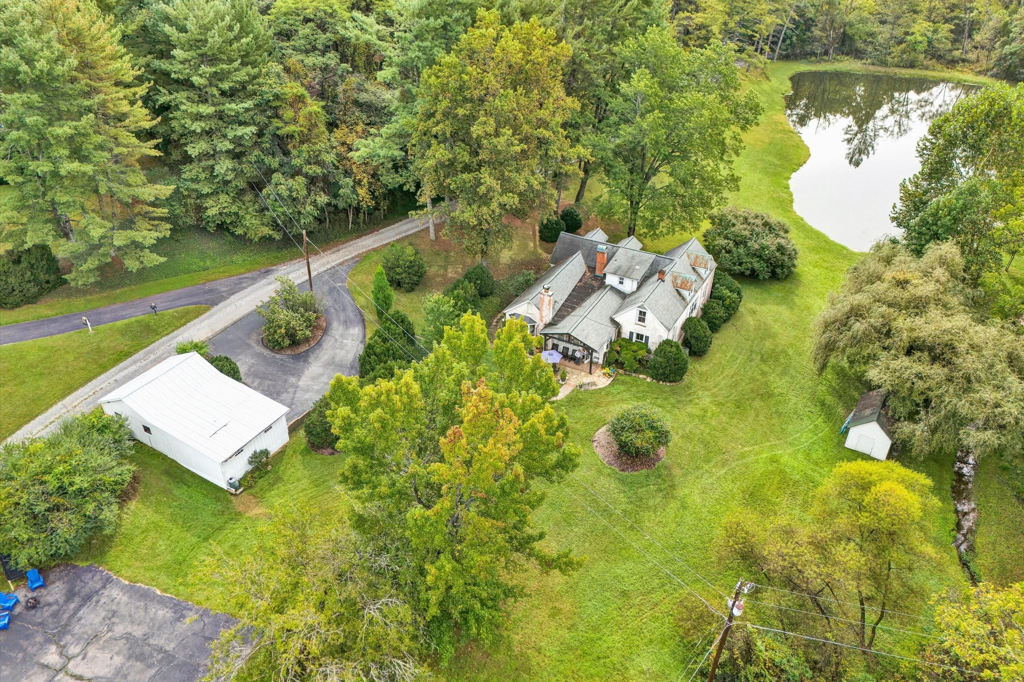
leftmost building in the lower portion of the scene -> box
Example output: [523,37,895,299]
[96,354,293,490]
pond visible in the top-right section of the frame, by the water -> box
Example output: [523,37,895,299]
[787,74,1005,252]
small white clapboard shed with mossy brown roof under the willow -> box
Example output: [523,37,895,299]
[845,389,907,458]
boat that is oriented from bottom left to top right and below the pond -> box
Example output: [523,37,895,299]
[836,418,851,441]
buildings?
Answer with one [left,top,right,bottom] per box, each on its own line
[845,389,907,458]
[96,354,293,490]
[504,227,718,375]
